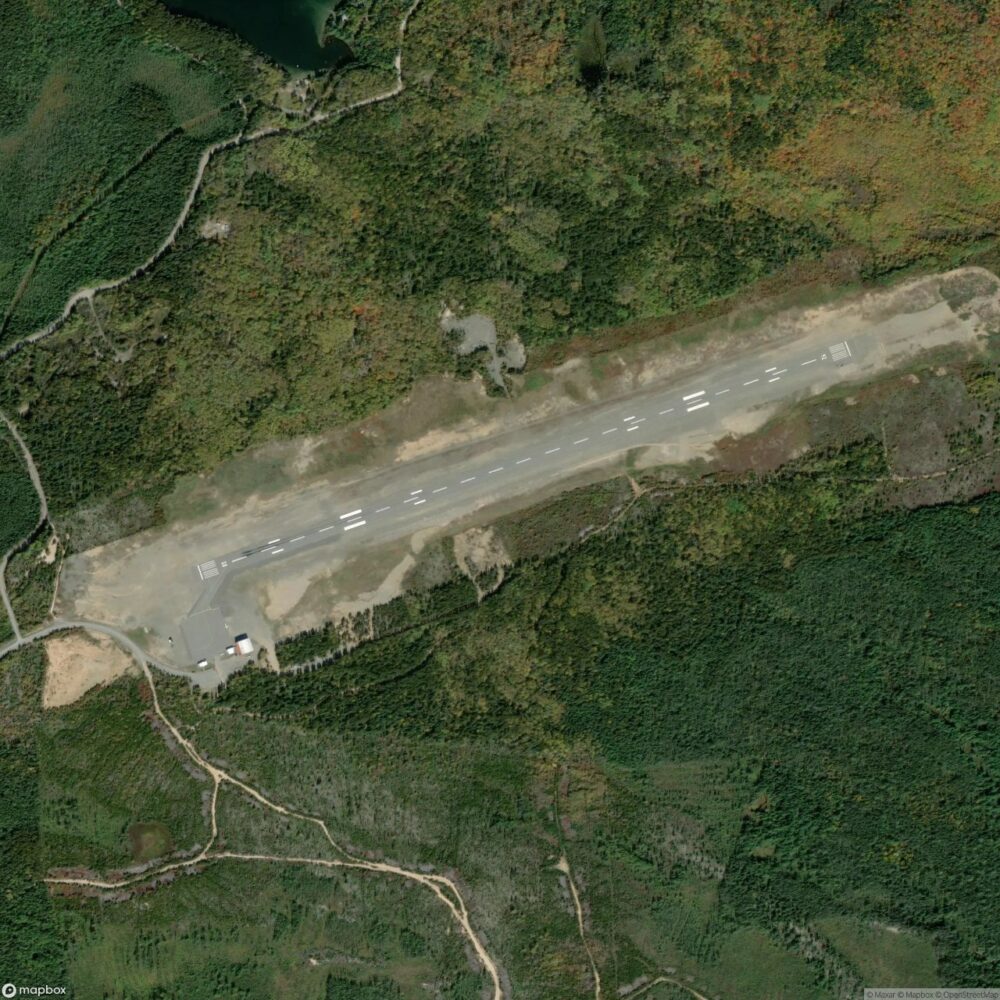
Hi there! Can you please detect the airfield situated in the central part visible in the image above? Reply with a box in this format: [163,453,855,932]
[181,336,864,663]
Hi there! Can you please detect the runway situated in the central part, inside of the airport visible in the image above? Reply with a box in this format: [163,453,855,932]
[193,336,864,582]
